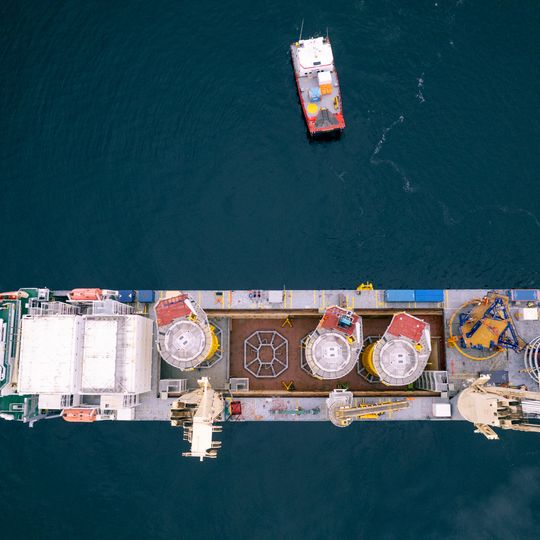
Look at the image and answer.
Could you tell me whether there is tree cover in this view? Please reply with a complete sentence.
No, no tree cover is visible.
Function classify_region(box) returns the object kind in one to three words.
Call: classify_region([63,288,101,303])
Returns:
boat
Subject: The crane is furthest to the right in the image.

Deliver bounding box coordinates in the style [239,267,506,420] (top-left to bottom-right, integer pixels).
[456,374,540,440]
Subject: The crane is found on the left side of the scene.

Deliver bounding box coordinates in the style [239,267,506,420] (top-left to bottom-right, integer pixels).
[170,376,224,462]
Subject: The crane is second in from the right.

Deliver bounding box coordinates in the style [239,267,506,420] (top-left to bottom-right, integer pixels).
[327,389,411,427]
